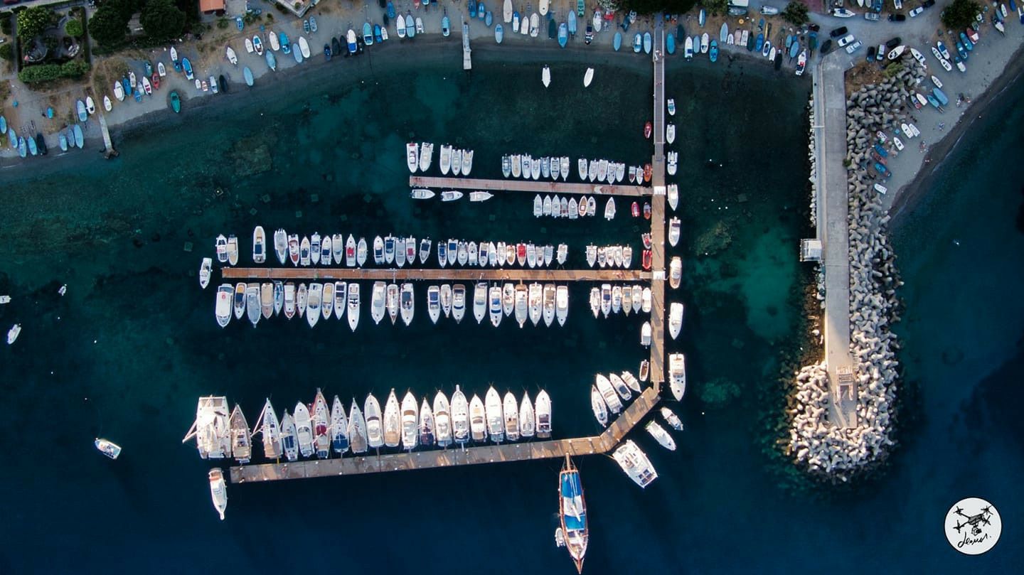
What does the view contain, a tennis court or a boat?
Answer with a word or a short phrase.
boat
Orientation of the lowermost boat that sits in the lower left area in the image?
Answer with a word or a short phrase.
vertically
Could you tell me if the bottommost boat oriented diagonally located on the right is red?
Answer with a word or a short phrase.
No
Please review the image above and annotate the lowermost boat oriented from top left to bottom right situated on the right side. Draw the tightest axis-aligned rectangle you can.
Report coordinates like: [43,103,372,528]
[612,439,658,489]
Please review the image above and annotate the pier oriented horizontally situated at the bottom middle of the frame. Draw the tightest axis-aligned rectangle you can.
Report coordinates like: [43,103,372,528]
[230,382,660,483]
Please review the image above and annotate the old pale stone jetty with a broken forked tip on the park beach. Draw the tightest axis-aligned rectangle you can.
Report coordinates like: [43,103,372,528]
[99,114,119,159]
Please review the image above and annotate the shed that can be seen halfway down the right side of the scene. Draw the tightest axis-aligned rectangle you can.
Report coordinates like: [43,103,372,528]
[797,239,824,261]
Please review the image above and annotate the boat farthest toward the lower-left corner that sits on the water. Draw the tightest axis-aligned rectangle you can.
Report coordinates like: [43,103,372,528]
[96,440,123,457]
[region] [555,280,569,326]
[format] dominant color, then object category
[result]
white boat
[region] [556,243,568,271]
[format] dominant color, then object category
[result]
white boat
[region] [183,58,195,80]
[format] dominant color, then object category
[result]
blue boat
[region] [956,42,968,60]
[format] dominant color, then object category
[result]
blue boat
